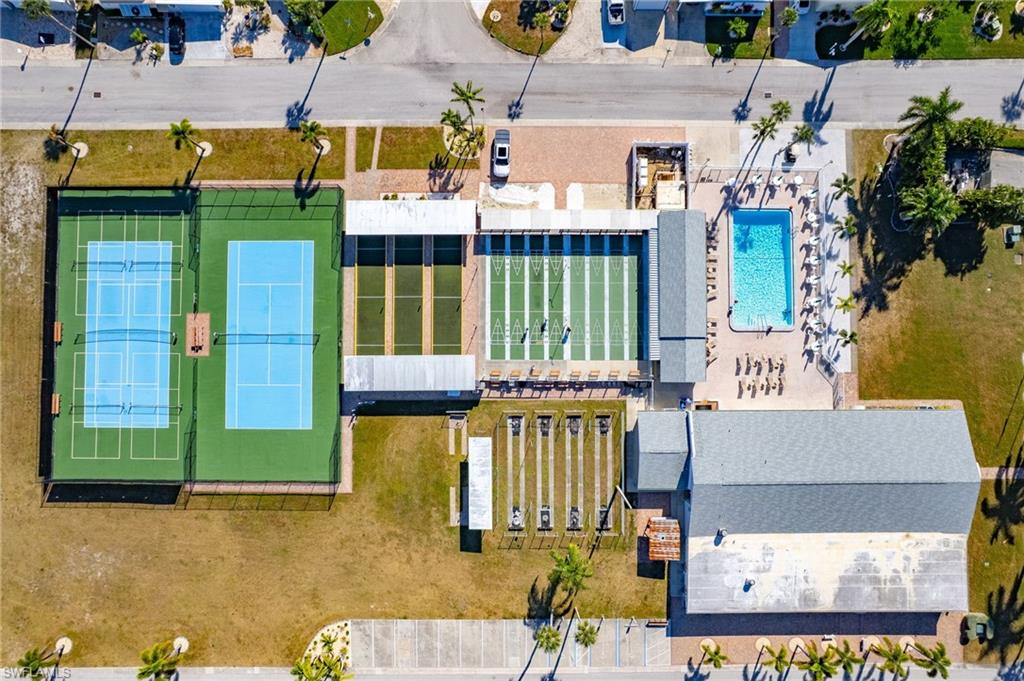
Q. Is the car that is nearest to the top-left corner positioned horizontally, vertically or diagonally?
vertically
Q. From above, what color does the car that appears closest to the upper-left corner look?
black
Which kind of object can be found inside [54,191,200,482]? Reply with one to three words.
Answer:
tennis court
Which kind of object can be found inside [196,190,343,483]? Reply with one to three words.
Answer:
tennis court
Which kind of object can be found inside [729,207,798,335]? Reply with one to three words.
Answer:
swimming pool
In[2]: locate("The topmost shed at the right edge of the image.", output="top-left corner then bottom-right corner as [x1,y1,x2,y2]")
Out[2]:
[977,150,1024,198]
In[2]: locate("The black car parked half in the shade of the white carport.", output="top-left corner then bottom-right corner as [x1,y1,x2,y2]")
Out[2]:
[166,13,186,53]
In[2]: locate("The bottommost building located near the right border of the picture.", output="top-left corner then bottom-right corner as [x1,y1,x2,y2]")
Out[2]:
[684,409,984,614]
